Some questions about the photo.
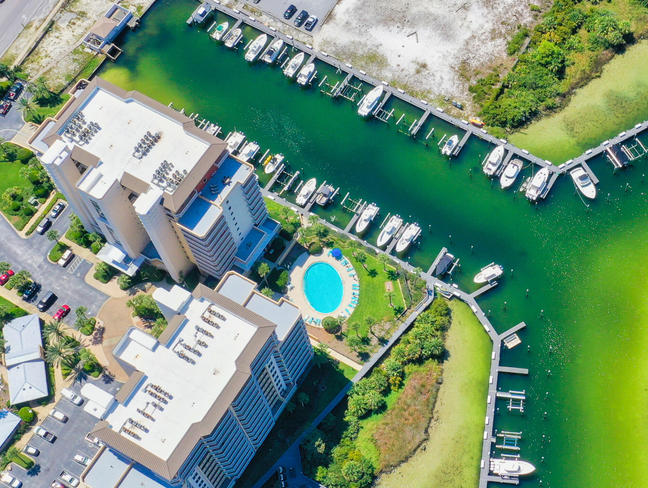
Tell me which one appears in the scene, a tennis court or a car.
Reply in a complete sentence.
The image shows a car.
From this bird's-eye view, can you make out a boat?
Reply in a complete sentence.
Yes, a boat is visible in the scene.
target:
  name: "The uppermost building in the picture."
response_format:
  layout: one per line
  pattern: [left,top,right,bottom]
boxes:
[83,4,133,55]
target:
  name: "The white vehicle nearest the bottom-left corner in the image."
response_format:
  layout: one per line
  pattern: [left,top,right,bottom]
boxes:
[1,472,22,488]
